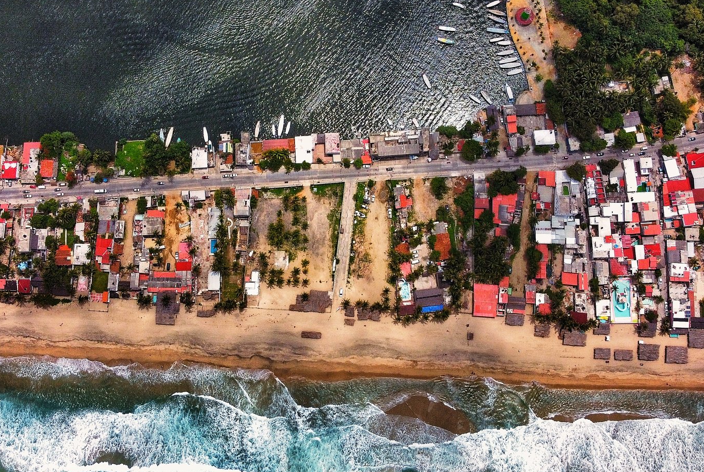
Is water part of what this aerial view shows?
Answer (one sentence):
Yes, the picture does contain water.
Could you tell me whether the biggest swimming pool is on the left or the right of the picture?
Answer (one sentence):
The biggest swimming pool sits on the right side.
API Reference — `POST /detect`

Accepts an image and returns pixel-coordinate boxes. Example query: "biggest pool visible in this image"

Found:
[612,279,632,318]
